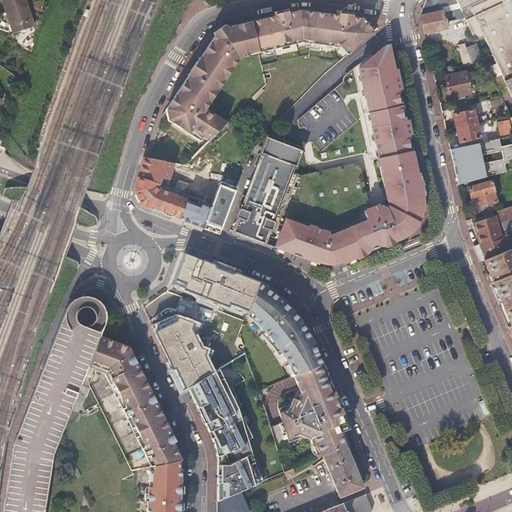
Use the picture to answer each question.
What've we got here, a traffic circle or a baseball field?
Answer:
traffic circle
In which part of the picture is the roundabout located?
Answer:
left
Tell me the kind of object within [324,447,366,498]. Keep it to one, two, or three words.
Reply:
building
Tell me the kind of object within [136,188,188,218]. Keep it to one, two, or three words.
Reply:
house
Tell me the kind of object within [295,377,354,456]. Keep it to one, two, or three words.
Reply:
building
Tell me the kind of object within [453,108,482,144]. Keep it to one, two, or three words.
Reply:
house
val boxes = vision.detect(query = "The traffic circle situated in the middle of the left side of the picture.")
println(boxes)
[98,227,164,294]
